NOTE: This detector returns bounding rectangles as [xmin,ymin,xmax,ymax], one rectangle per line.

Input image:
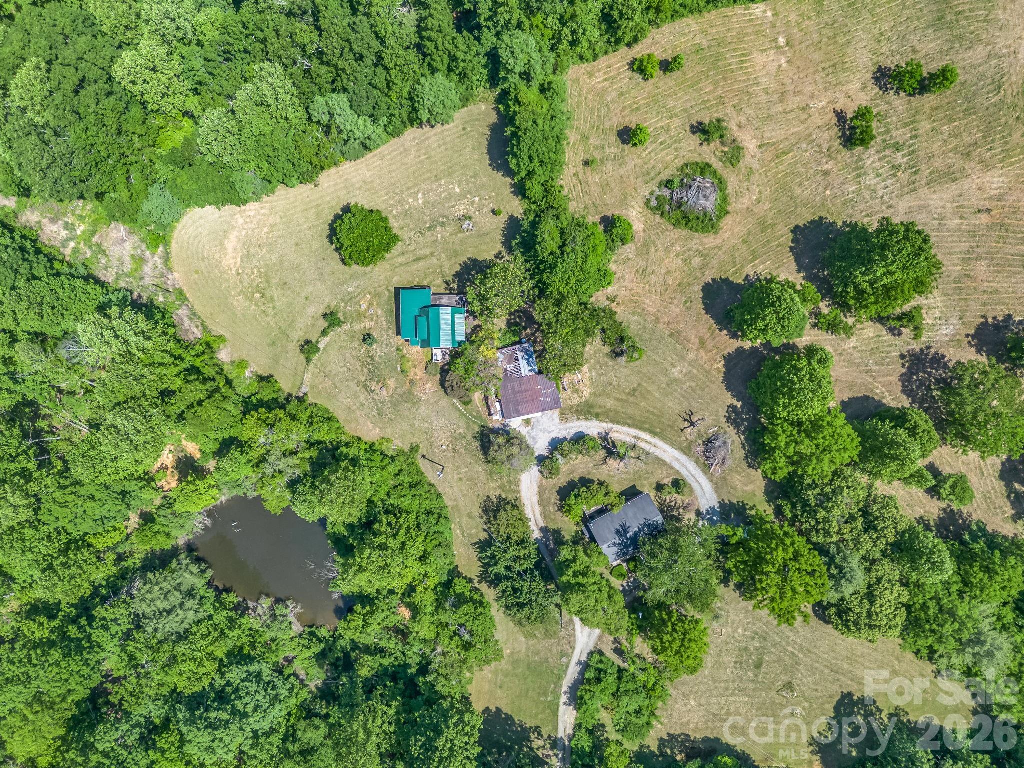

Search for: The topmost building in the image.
[399,289,467,366]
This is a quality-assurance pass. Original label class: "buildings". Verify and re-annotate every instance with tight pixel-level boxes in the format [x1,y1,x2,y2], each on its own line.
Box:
[399,289,467,366]
[586,492,668,565]
[490,337,563,423]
